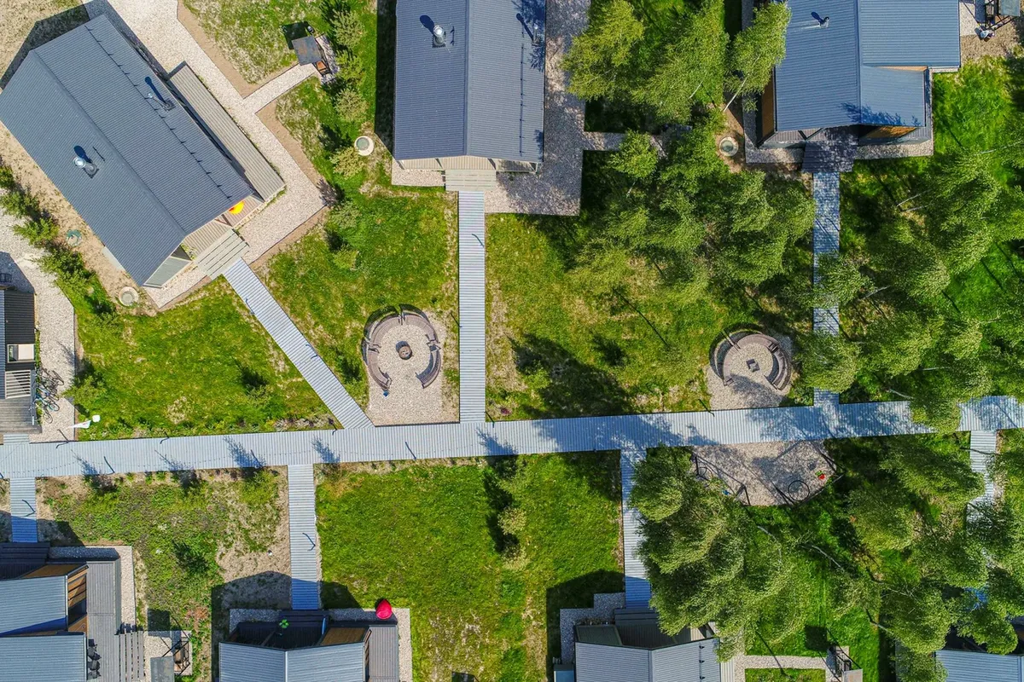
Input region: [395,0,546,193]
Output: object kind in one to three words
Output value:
house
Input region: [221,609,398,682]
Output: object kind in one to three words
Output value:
house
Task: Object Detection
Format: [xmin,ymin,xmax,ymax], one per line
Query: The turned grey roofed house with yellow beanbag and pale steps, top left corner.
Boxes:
[0,16,287,286]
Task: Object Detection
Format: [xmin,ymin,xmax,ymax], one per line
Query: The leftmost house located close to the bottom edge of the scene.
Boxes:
[0,539,145,682]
